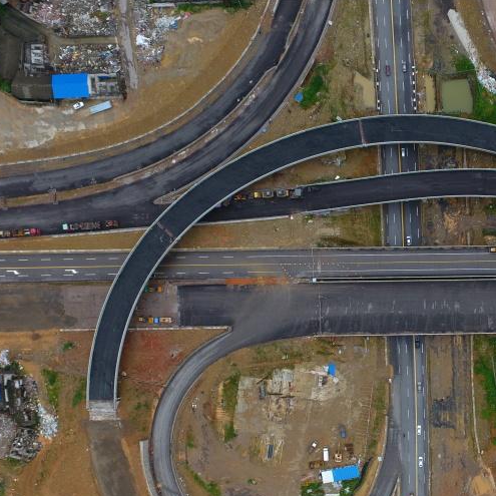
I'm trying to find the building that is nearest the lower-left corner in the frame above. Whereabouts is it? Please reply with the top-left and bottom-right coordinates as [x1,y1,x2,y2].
[7,428,41,460]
